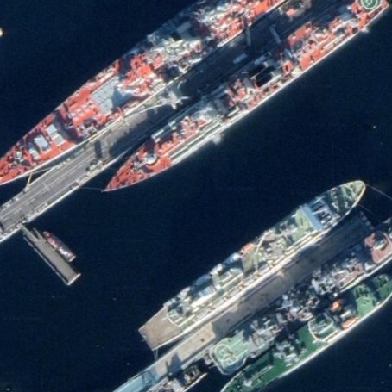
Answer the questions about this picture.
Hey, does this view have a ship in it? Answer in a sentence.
Yes, the image includes a ship.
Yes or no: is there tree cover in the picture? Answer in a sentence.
No, the picture contains no tree cover.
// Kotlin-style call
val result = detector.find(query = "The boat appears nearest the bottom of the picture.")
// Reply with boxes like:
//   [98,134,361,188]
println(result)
[166,368,208,392]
